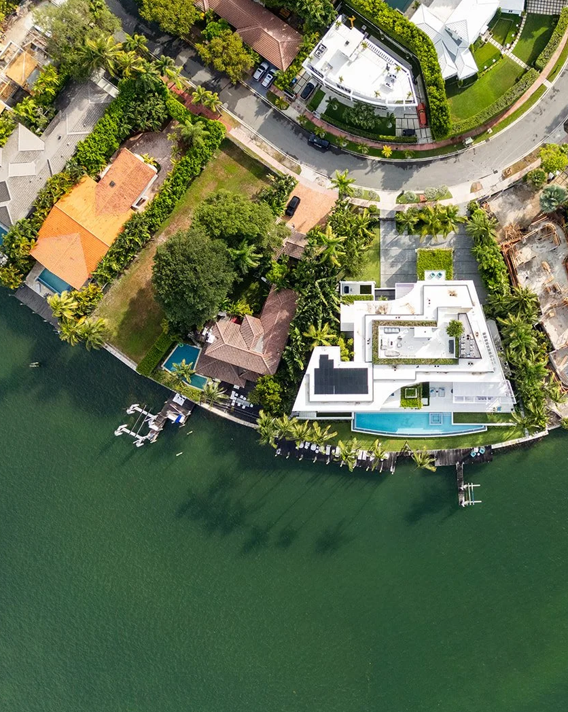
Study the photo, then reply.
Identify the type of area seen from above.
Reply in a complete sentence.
This looks like a residential area.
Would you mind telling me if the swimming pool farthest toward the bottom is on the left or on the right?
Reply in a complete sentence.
The swimming pool farthest toward the bottom appears in the right half of the scene.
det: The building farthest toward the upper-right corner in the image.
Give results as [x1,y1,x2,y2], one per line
[409,0,524,83]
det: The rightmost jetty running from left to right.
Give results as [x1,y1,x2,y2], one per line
[435,446,493,466]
